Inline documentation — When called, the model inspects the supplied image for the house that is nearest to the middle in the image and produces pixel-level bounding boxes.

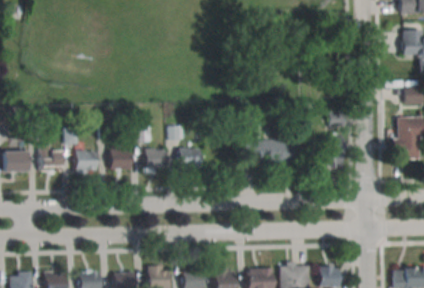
[179,148,204,164]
